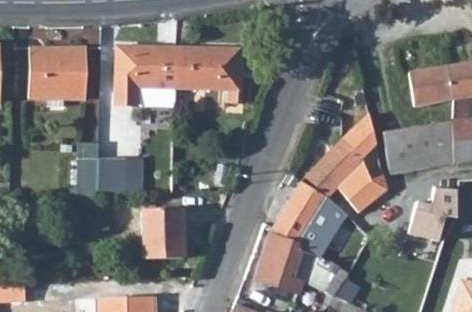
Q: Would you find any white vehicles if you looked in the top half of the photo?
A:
No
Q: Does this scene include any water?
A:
No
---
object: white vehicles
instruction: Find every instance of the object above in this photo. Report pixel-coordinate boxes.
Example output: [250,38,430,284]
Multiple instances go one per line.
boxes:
[247,285,272,302]
[182,196,203,206]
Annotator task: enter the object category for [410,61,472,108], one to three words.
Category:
house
